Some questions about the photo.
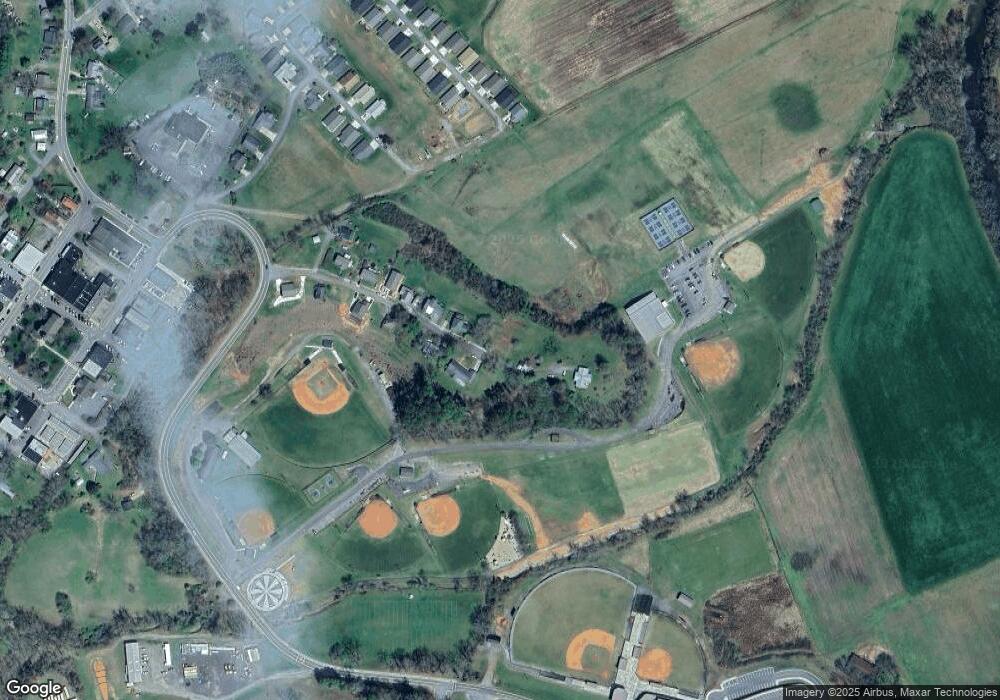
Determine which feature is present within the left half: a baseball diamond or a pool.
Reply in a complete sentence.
There is a baseball diamond within the left half.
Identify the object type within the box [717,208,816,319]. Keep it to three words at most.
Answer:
baseball field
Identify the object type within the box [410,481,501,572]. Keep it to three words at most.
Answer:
baseball field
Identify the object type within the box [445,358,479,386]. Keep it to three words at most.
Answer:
house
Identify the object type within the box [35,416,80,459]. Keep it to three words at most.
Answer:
building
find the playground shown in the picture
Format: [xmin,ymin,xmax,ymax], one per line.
[486,515,521,573]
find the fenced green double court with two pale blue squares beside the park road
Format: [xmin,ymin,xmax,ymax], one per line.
[302,470,344,508]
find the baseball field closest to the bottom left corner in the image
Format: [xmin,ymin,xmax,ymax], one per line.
[212,474,308,553]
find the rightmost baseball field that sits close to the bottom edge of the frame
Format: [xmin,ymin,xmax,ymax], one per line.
[635,610,706,695]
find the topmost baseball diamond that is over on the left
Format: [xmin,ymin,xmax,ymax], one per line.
[262,357,394,469]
